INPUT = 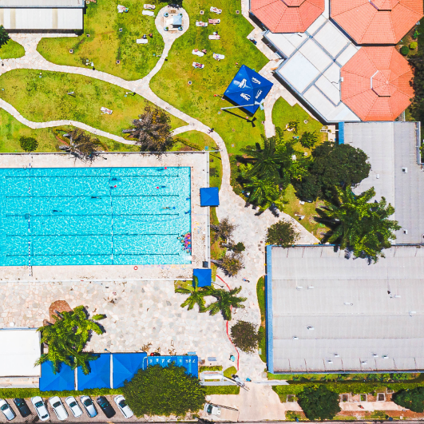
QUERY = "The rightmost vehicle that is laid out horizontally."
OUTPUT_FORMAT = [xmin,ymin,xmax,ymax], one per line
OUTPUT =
[207,406,246,424]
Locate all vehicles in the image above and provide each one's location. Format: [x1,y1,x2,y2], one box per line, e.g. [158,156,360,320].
[64,395,83,421]
[94,395,117,422]
[79,394,98,420]
[30,395,49,424]
[207,406,246,424]
[114,396,134,420]
[47,395,69,423]
[0,398,17,424]
[11,398,31,421]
